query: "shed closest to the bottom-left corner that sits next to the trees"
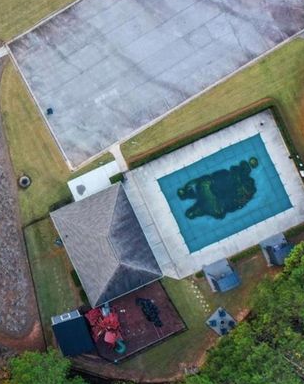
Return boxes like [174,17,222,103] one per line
[51,310,94,359]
